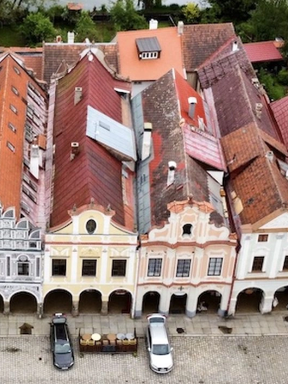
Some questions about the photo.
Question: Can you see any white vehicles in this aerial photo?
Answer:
Yes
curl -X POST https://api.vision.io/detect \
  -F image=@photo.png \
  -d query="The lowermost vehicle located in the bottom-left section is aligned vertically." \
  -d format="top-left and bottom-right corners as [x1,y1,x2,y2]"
[50,315,78,370]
